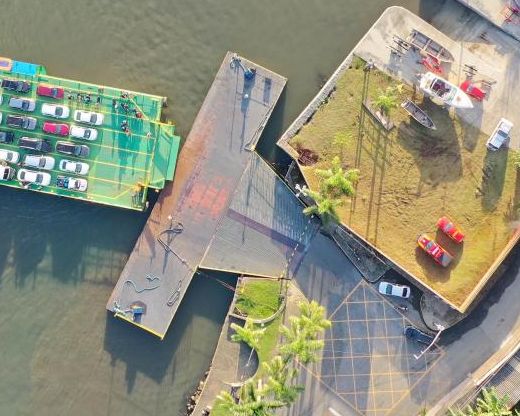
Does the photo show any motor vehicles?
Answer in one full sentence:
Yes, the photo shows a motor vehicle.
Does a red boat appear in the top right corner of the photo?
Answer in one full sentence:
Yes, there is a red boat in the top right corner of the photo.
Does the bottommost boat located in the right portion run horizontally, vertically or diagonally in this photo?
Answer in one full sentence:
The bottommost boat located in the right portion runs diagonally in the image.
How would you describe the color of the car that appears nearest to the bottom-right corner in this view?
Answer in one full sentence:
The car that appears nearest to the bottom-right corner looks blue in the image.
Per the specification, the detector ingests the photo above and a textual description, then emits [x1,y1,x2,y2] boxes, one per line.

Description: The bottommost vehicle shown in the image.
[400,324,432,344]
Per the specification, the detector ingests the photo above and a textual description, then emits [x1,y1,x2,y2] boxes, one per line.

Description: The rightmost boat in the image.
[458,80,486,101]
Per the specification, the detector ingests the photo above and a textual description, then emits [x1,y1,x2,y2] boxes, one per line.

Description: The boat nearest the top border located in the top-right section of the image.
[407,29,453,62]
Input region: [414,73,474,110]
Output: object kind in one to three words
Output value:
boat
